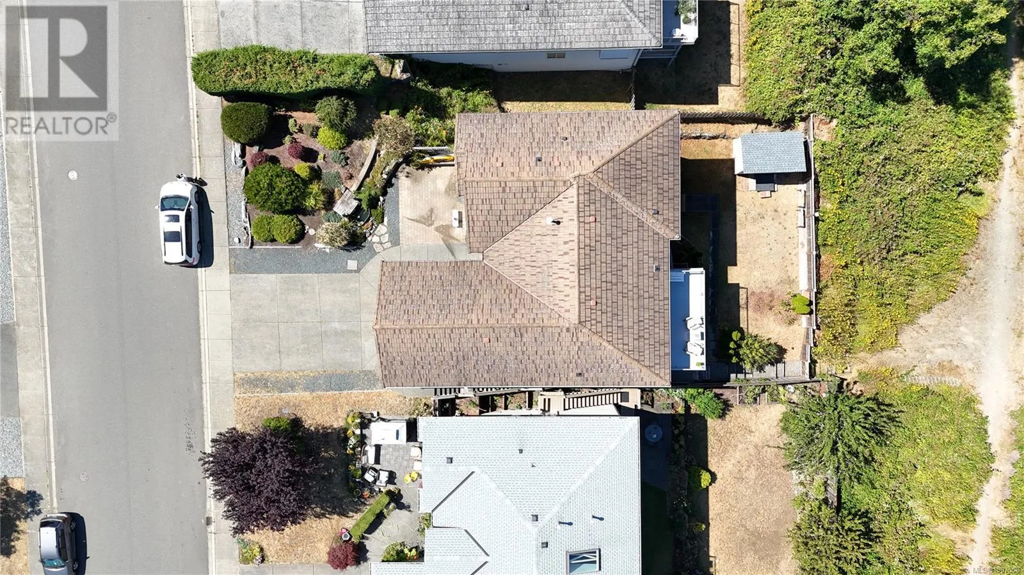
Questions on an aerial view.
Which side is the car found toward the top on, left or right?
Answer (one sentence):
The car found toward the top appears in the left half of the scene.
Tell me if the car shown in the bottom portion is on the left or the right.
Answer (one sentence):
It is on the left.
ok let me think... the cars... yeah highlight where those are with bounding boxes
[38,511,81,575]
[158,184,202,267]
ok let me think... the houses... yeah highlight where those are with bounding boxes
[370,409,644,575]
[362,0,700,75]
[371,109,708,389]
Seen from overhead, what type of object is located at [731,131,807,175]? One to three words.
shed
